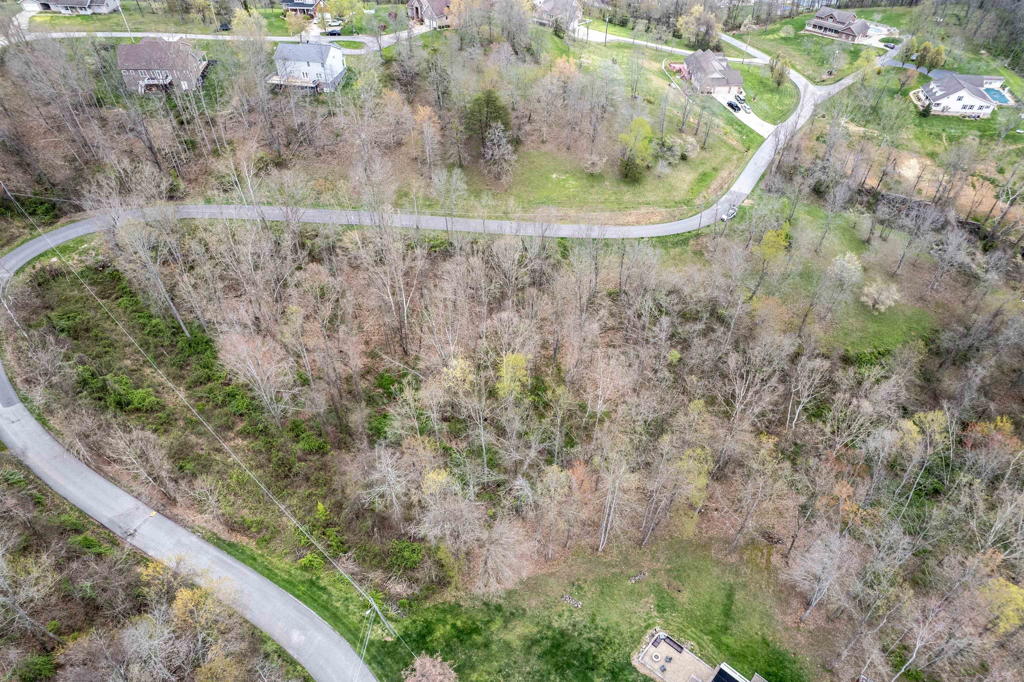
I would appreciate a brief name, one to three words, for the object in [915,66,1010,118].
house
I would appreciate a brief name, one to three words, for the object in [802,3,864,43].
house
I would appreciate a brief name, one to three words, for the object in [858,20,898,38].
swimming pool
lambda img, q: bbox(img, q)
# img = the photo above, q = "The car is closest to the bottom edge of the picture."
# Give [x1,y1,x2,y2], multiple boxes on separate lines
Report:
[721,204,738,220]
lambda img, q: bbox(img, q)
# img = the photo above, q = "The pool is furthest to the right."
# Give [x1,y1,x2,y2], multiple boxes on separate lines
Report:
[991,92,1015,107]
